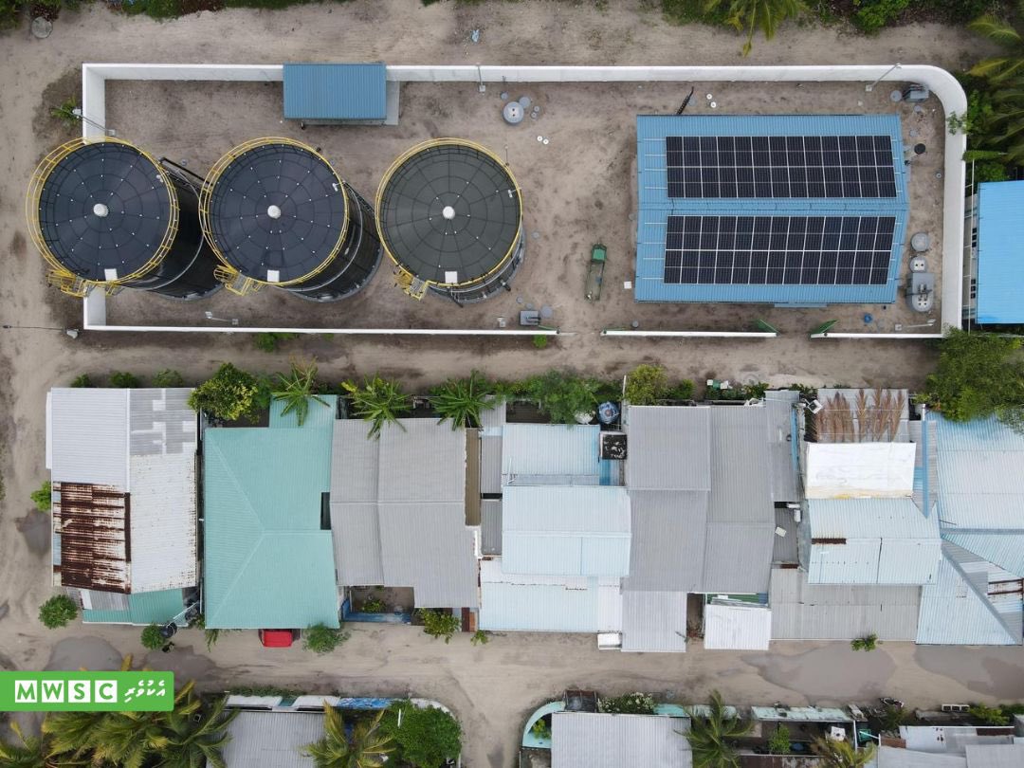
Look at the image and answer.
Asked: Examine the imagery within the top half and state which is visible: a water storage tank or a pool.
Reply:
water storage tank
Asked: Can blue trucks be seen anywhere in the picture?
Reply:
No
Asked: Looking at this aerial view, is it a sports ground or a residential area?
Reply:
residential area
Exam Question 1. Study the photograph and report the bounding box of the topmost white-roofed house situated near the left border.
[50,388,198,594]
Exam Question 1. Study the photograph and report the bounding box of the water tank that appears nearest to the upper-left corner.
[24,132,234,301]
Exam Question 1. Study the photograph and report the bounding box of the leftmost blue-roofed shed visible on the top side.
[283,62,390,131]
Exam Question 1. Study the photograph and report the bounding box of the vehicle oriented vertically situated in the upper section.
[584,245,610,301]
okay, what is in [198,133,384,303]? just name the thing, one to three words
water tank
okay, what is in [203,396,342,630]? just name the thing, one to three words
house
